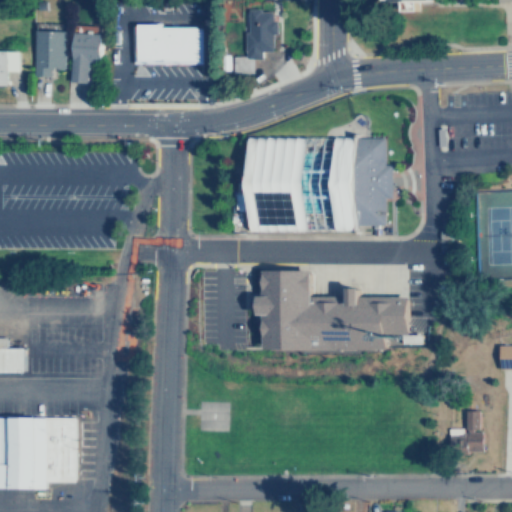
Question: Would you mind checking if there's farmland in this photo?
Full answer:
No, farmland can't be seen anywhere here.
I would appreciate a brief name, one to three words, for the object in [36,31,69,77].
house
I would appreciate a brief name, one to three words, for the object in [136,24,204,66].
building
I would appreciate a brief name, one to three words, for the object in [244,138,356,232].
building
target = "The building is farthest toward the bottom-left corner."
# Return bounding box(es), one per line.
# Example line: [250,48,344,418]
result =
[0,417,81,490]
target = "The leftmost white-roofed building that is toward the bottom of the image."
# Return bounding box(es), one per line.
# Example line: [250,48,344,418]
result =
[0,338,28,374]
